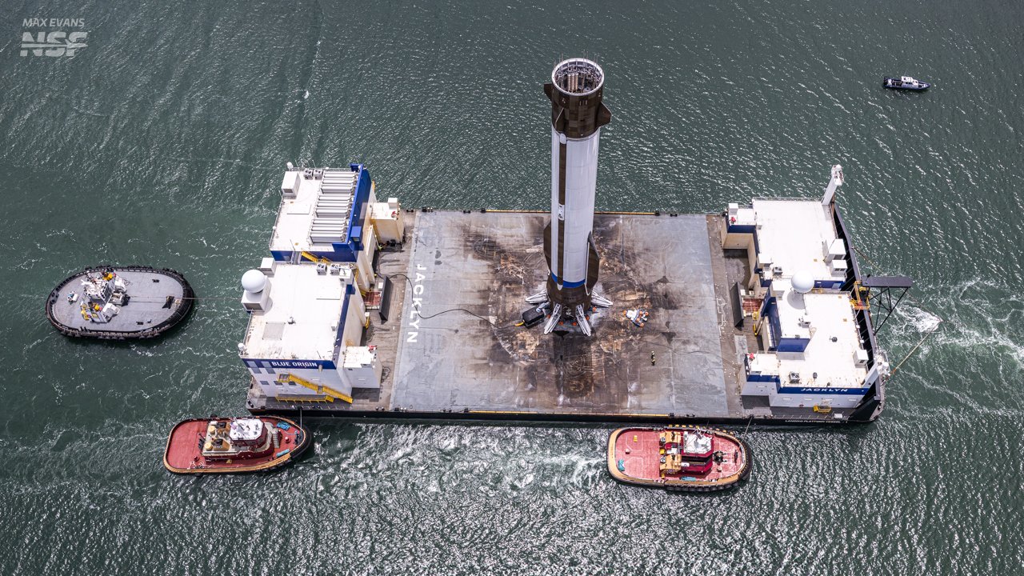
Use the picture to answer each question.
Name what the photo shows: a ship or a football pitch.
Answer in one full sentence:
Looking from above, you can make out a ship.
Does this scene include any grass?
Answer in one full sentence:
No, the scene doesn't show any grass.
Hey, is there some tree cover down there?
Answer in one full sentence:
No, the picture contains no tree cover.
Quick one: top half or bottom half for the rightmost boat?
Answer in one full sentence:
The rightmost boat is in the top half of the image.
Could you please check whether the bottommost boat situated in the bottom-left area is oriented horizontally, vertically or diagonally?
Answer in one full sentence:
The bottommost boat situated in the bottom-left area is laid out horizontally.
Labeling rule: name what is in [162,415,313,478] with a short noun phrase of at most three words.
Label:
boat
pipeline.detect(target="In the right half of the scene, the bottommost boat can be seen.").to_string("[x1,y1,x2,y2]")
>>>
[608,423,754,494]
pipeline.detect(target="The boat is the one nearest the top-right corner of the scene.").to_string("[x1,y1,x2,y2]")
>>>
[882,69,930,89]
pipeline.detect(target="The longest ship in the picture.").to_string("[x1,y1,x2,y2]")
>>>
[238,158,912,429]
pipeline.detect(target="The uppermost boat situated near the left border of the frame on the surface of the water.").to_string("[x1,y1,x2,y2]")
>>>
[44,263,195,344]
